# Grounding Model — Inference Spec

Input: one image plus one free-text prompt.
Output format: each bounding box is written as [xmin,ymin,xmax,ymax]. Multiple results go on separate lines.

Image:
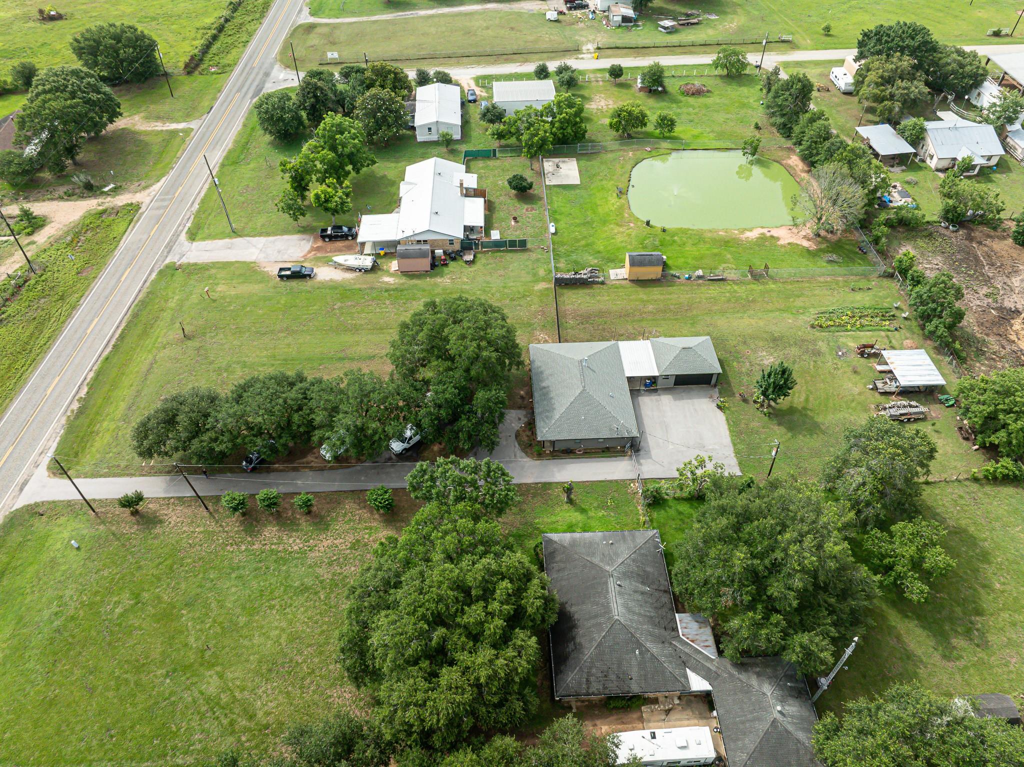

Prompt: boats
[331,254,378,269]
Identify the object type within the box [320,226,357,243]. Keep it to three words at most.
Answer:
vehicle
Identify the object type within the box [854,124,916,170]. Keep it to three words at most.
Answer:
shed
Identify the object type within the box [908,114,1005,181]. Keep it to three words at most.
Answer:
house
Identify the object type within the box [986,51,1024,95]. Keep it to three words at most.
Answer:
barn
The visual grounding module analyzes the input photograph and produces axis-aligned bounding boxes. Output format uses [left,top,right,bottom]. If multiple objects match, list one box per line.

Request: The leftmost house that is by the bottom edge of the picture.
[541,528,826,767]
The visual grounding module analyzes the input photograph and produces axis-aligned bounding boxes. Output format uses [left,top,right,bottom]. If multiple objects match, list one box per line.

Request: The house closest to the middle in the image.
[529,341,639,451]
